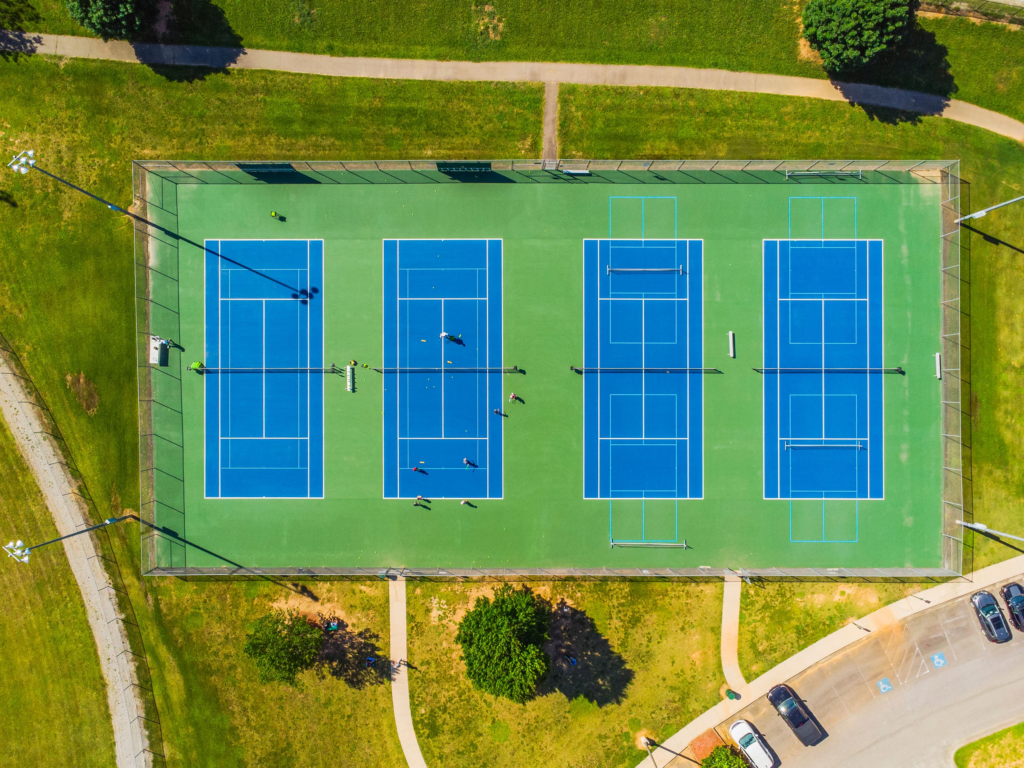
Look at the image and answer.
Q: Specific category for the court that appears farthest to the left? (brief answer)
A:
tennis court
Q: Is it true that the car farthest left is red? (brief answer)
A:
No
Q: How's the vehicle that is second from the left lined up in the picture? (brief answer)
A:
on a diagonal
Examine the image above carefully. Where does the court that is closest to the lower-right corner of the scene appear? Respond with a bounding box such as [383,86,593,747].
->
[790,395,858,542]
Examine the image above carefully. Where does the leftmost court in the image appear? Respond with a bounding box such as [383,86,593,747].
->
[205,239,324,499]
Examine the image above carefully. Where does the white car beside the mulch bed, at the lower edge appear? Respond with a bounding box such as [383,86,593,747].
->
[729,721,773,768]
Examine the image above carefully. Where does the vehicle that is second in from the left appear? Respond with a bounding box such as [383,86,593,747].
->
[766,682,822,747]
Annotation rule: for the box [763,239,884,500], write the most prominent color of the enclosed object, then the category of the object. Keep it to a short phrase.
blue tennis court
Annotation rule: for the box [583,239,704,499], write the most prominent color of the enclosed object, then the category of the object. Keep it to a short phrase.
blue tennis court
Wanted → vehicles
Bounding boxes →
[766,682,822,747]
[1001,580,1024,633]
[729,721,773,768]
[968,591,1009,645]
